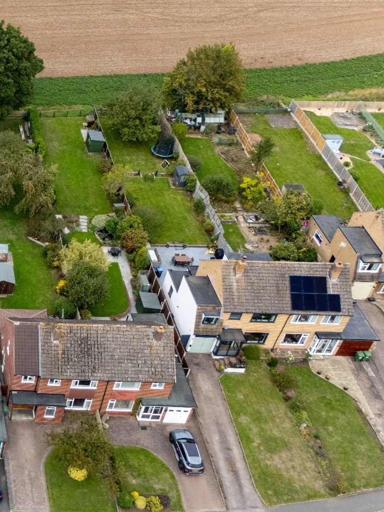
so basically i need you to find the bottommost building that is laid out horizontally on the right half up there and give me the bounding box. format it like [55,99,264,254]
[165,253,382,356]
